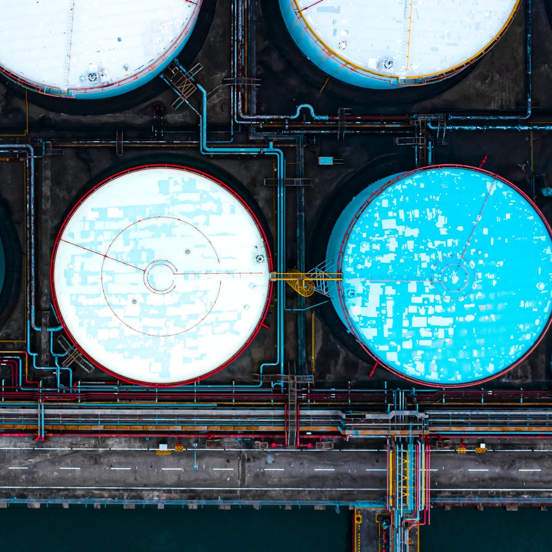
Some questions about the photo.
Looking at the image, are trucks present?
No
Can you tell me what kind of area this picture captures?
industrial area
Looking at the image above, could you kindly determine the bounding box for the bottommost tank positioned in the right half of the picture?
[305,151,552,390]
